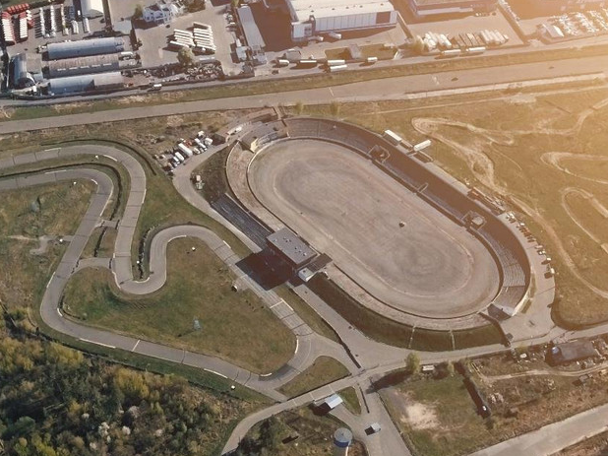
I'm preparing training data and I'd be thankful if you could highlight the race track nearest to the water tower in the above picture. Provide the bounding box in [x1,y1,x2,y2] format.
[0,144,358,391]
